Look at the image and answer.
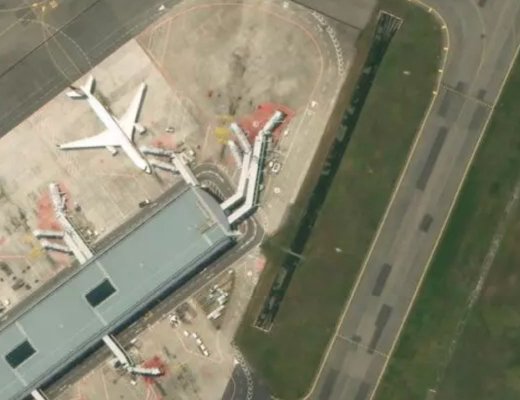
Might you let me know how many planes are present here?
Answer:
one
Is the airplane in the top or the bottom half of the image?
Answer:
top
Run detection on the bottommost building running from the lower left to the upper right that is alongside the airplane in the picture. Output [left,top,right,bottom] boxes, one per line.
[0,185,247,400]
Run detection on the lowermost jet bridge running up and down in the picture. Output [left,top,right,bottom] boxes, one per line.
[51,184,66,220]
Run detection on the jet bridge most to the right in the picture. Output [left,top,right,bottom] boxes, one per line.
[258,111,282,136]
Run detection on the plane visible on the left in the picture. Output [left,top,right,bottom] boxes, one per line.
[61,74,151,173]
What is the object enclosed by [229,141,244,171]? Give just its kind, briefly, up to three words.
jet bridge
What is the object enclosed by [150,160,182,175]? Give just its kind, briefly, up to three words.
jet bridge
